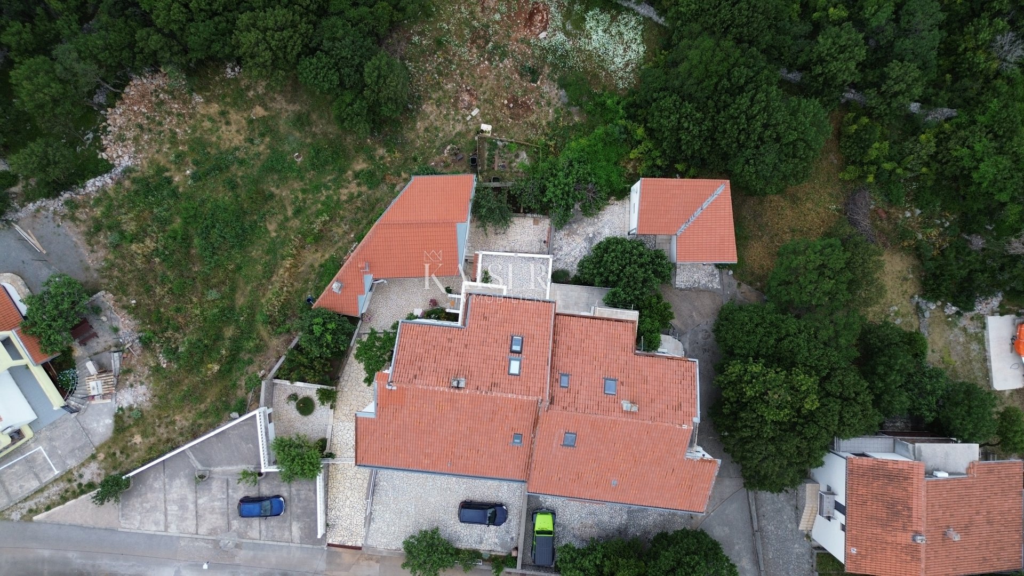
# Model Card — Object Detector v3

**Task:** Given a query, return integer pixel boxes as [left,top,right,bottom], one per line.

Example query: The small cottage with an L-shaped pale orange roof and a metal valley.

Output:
[629,177,739,267]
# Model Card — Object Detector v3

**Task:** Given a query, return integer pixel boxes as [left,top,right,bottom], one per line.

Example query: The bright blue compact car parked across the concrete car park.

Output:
[235,493,287,520]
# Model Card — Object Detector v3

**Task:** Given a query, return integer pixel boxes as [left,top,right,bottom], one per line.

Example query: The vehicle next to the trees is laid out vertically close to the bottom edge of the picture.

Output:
[530,512,557,569]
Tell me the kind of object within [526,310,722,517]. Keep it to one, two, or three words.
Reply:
house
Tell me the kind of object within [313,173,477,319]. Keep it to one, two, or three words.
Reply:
shed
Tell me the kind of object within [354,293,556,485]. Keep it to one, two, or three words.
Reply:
house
